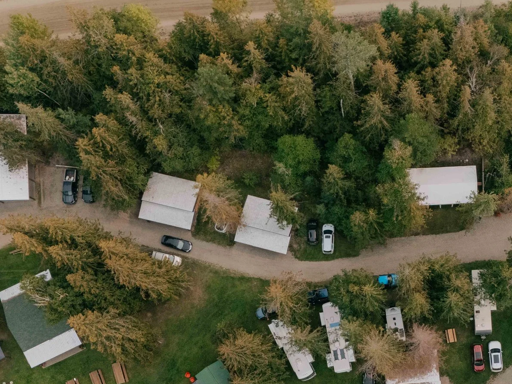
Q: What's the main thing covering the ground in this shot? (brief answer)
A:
trees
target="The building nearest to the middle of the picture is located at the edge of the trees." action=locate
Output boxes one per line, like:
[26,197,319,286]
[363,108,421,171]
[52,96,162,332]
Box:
[235,195,297,256]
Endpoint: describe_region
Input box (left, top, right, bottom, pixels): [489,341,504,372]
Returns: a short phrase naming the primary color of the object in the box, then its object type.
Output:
white car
